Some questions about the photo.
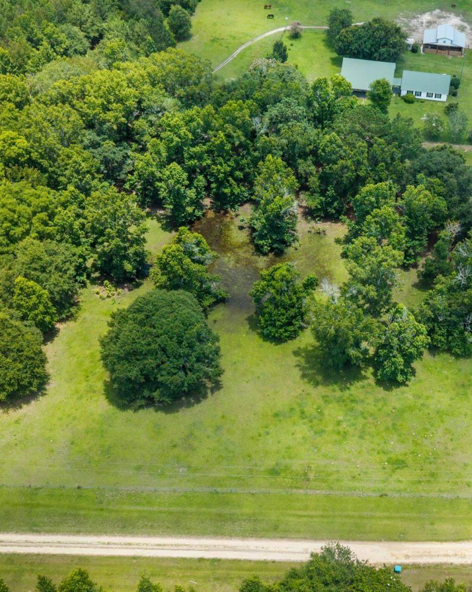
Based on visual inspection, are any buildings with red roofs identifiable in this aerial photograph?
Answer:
No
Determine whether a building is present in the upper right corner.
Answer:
Yes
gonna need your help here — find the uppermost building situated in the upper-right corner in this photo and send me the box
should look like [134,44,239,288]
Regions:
[422,24,466,55]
